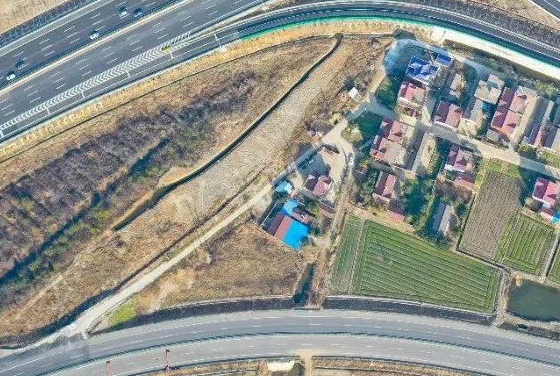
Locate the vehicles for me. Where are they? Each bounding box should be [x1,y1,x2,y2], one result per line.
[118,9,127,15]
[133,11,141,17]
[5,75,15,81]
[90,32,98,38]
[15,63,25,70]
